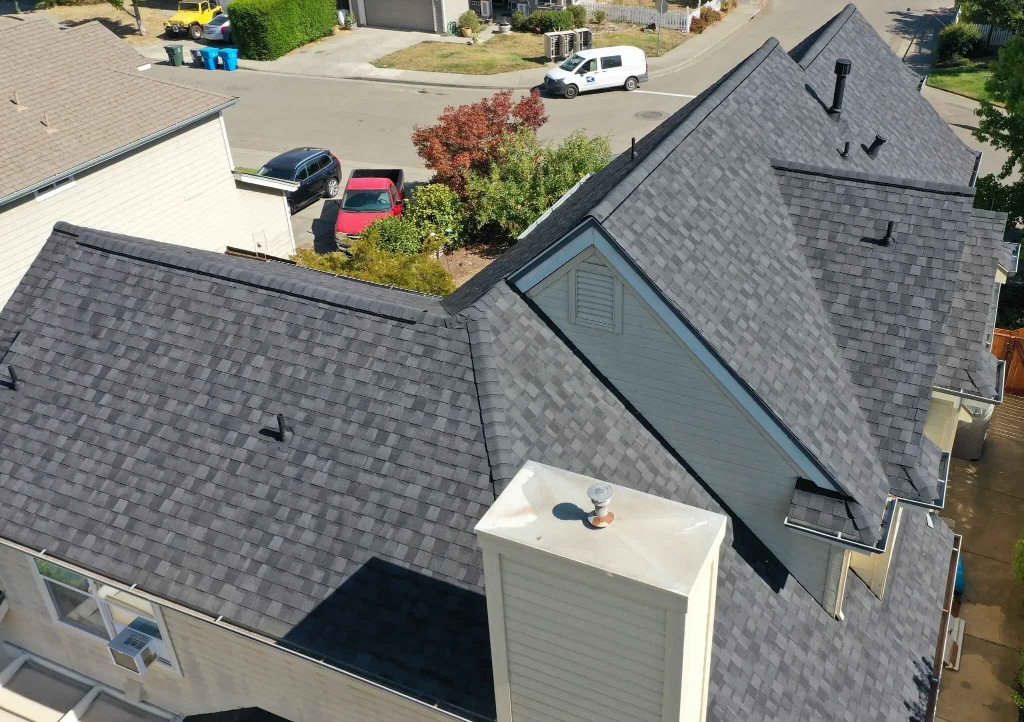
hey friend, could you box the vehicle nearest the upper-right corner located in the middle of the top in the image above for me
[538,43,652,99]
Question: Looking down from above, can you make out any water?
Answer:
No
